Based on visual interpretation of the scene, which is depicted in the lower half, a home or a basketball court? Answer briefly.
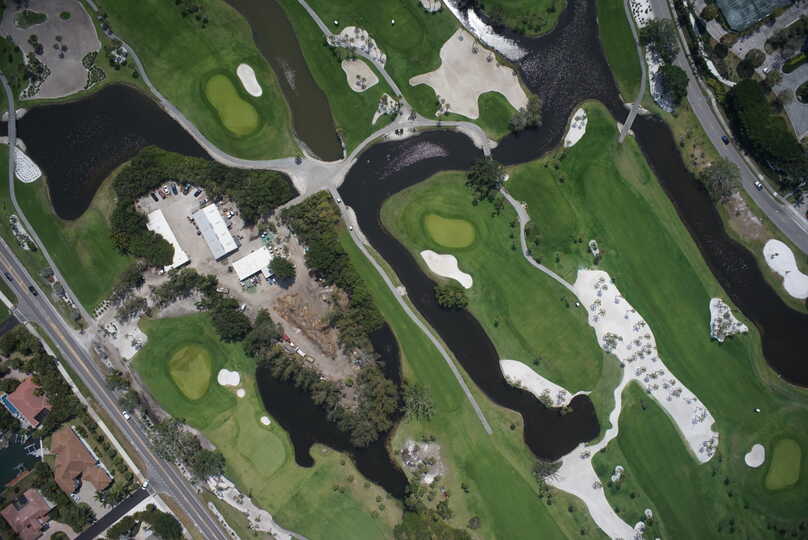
home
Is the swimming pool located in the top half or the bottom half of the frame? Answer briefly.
bottom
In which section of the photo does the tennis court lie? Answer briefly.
top right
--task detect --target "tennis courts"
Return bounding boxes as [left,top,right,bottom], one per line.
[720,0,795,32]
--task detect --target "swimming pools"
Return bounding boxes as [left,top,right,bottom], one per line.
[0,393,32,427]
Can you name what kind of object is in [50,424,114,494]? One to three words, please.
house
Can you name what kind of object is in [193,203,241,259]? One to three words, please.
shed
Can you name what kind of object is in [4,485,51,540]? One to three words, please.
house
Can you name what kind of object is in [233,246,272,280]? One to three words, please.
shed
